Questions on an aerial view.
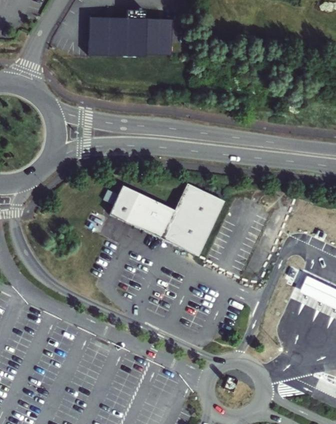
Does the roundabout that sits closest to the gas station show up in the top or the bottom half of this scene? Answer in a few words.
bottom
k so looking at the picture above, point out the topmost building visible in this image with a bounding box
[88,9,173,57]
